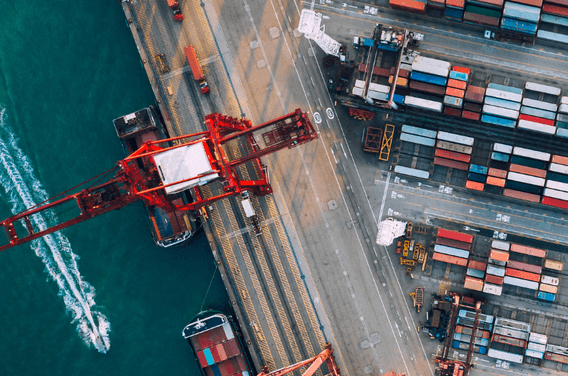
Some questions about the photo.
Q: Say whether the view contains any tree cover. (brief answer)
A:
No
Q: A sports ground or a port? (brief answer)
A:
port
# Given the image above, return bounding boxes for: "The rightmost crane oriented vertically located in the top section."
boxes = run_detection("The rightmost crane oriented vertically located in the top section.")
[355,22,411,122]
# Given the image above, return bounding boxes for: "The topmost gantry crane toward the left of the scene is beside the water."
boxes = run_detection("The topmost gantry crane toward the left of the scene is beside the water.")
[0,108,317,259]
